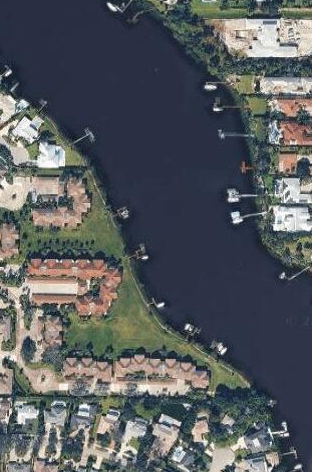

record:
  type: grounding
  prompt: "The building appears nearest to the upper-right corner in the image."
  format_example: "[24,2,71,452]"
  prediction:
[240,20,295,57]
